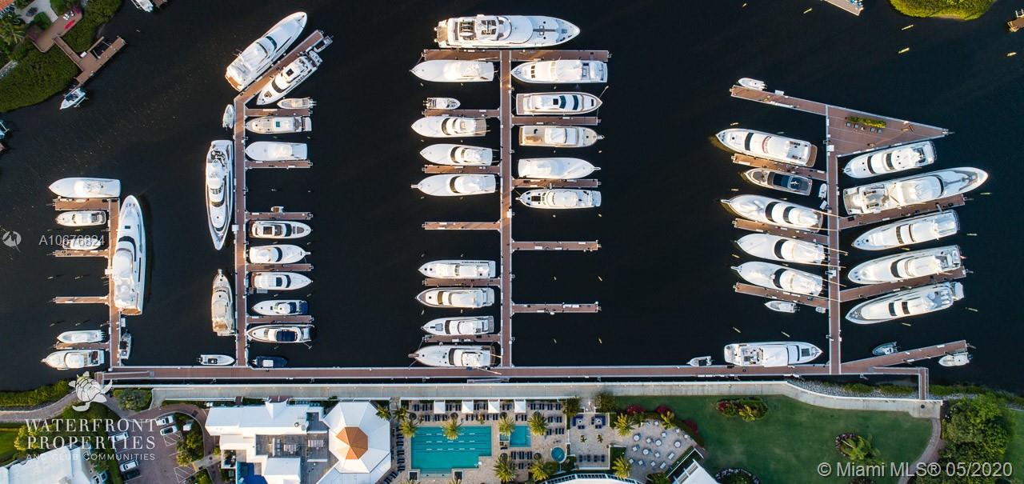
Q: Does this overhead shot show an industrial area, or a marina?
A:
marina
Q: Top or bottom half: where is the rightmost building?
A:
bottom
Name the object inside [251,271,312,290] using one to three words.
boat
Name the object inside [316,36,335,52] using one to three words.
boat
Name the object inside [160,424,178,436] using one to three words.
vehicle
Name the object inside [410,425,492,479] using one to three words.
swimming pool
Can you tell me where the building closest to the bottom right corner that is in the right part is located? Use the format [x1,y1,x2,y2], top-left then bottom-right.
[667,447,720,484]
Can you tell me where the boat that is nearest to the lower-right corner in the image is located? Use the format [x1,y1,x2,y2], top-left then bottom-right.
[936,354,971,367]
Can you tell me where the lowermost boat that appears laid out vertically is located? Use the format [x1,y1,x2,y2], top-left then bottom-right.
[123,330,135,359]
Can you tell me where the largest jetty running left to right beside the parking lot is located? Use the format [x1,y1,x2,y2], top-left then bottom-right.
[110,340,969,378]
